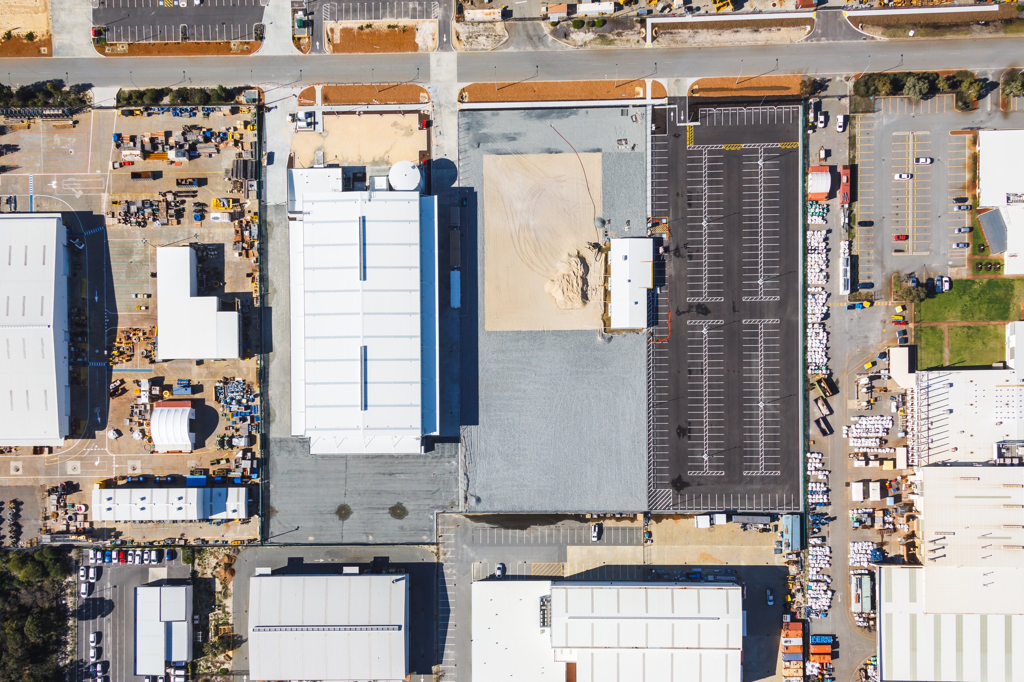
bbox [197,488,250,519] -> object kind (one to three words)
shed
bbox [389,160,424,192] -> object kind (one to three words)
water tank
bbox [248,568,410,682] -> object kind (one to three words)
warehouse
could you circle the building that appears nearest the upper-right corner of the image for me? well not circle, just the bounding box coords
[972,130,1024,211]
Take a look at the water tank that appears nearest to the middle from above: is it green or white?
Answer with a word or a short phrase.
white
